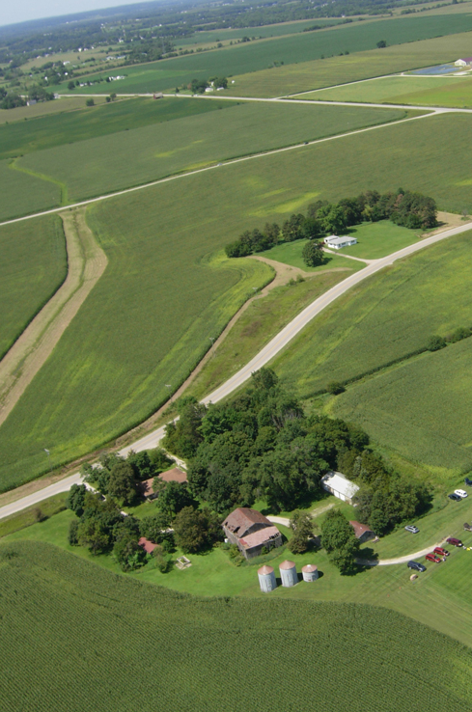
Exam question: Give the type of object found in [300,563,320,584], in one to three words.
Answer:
silo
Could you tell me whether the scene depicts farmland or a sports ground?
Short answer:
farmland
